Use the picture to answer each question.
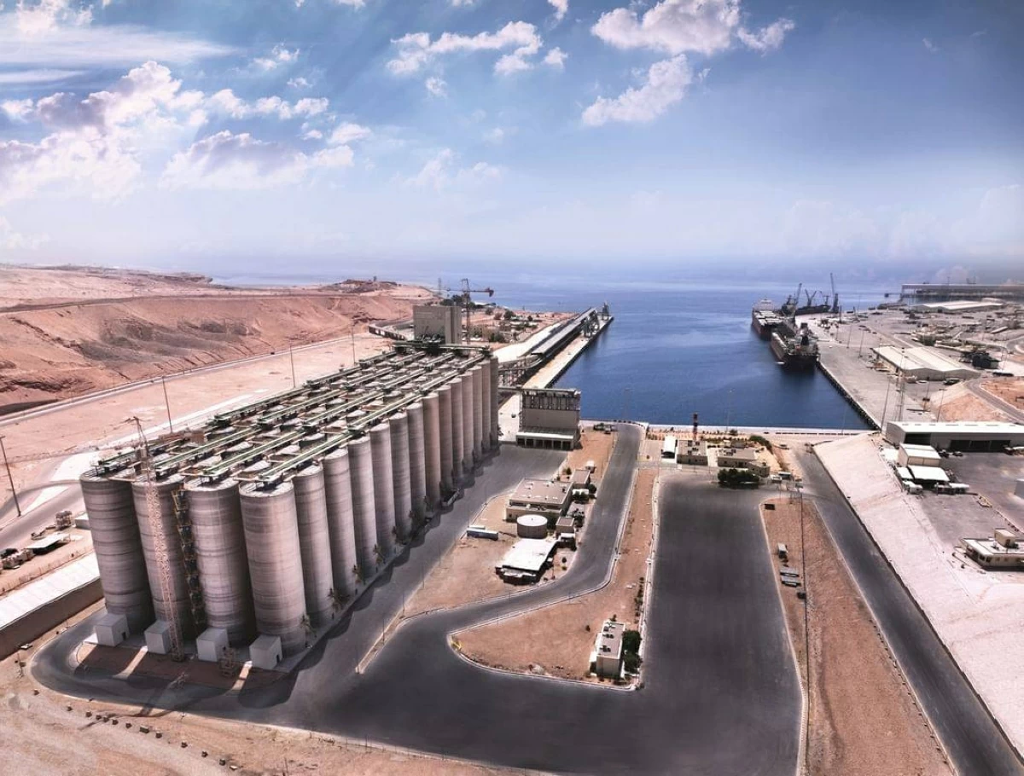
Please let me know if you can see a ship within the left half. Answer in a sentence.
No, I can find no ship within the left half.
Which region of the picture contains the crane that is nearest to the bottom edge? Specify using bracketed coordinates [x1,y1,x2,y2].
[102,417,189,664]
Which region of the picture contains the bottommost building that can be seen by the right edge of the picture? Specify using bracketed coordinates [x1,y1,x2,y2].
[964,528,1024,570]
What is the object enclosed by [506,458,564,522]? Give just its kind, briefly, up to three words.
building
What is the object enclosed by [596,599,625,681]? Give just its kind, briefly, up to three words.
building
